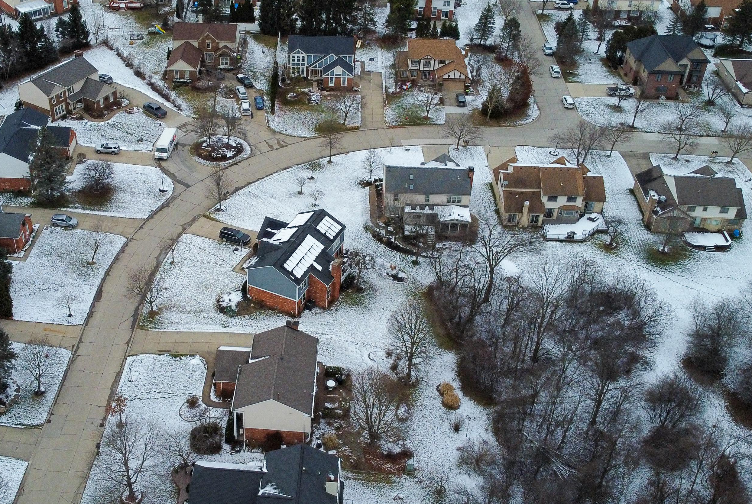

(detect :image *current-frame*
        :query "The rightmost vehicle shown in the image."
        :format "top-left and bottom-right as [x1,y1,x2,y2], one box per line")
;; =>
[607,84,636,97]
